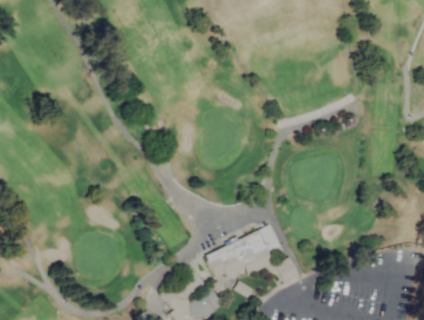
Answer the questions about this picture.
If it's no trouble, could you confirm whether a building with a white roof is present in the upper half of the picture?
No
